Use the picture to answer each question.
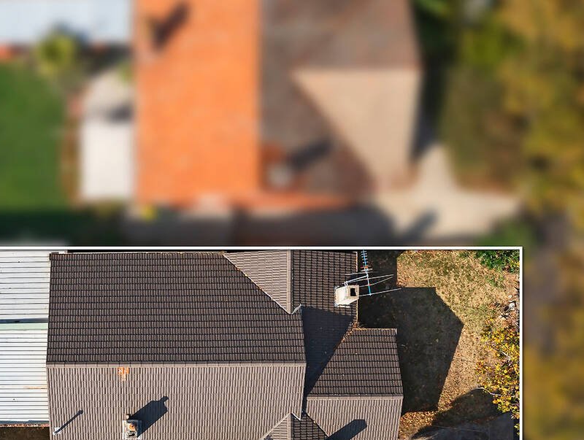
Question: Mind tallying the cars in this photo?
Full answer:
There are no cars in this view.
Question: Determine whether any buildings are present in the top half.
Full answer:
Yes, a building appears in the top half.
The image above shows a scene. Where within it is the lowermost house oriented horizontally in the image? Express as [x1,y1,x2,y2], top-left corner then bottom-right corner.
[0,242,404,440]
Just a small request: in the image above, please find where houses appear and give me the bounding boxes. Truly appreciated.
[132,0,425,207]
[0,242,404,440]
